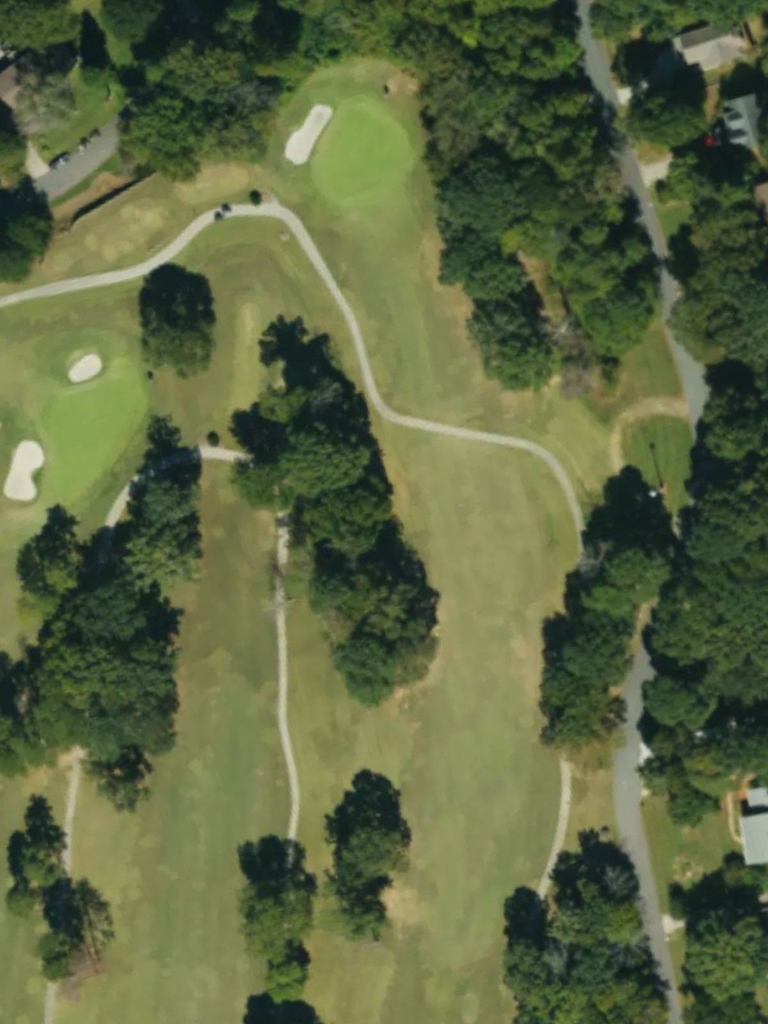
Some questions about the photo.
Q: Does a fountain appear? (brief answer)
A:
No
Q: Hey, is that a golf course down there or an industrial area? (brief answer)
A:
golf course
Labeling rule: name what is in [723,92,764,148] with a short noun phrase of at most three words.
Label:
house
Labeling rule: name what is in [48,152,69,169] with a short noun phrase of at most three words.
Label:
car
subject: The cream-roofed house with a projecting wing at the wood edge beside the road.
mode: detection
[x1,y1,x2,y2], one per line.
[673,27,748,76]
